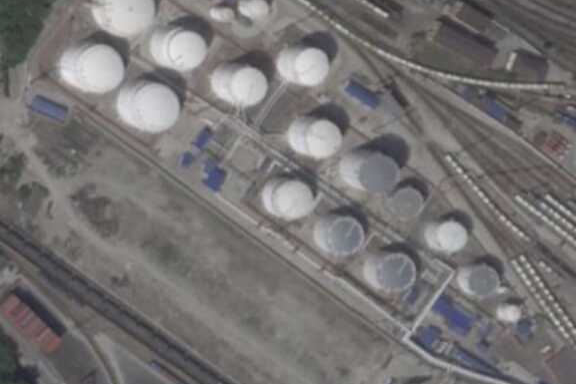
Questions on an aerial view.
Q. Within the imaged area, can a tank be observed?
Yes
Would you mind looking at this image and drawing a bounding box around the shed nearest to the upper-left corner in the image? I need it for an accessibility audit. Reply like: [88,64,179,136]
[28,94,70,122]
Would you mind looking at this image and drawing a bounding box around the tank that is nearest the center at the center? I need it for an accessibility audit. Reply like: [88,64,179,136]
[261,176,315,220]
